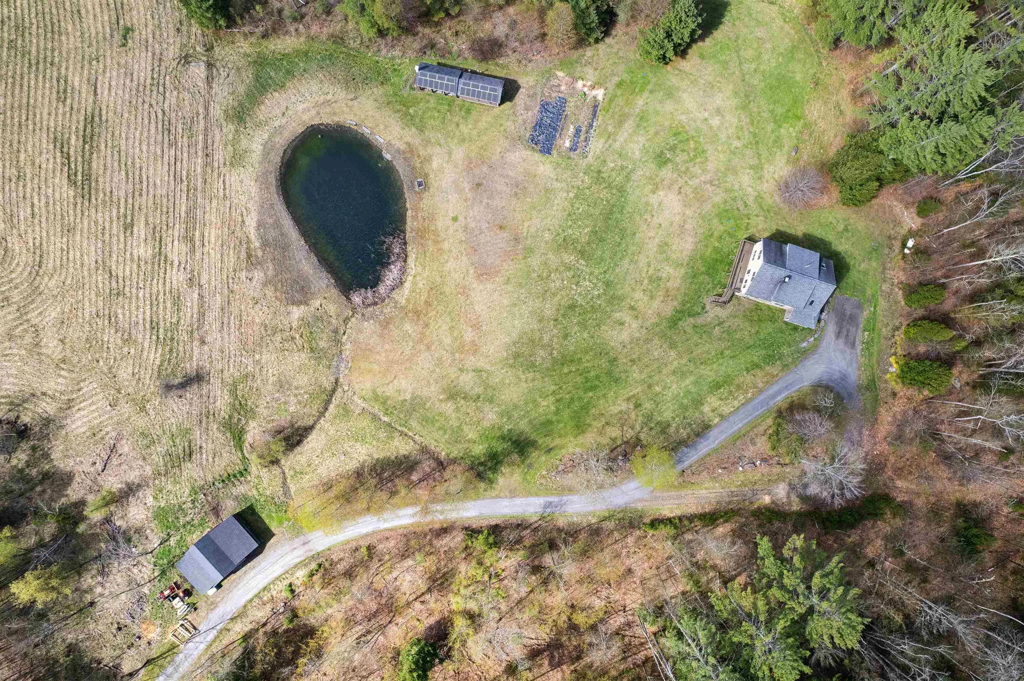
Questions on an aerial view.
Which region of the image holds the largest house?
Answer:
right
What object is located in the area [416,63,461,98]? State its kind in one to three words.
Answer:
shed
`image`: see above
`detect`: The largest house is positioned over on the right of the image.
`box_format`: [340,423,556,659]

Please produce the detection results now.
[708,238,837,330]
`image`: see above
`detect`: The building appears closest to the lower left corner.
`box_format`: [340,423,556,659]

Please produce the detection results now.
[175,513,262,596]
